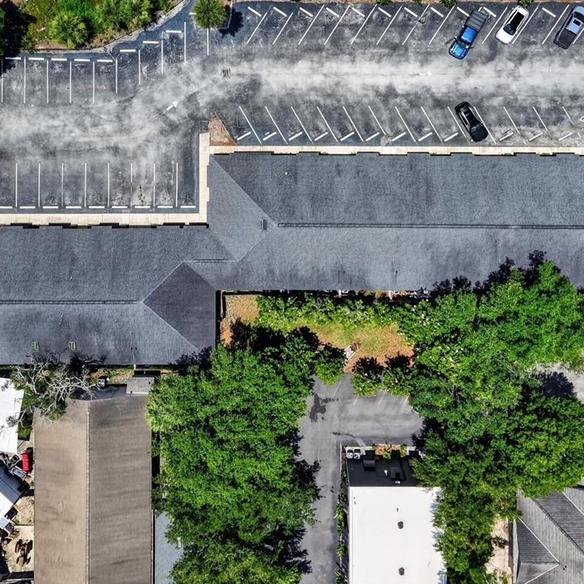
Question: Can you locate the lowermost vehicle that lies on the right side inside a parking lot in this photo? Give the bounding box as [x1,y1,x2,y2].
[455,100,486,145]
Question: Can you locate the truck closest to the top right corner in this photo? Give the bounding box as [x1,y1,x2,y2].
[553,5,584,52]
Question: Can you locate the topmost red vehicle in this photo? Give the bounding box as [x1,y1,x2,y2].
[16,444,34,476]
